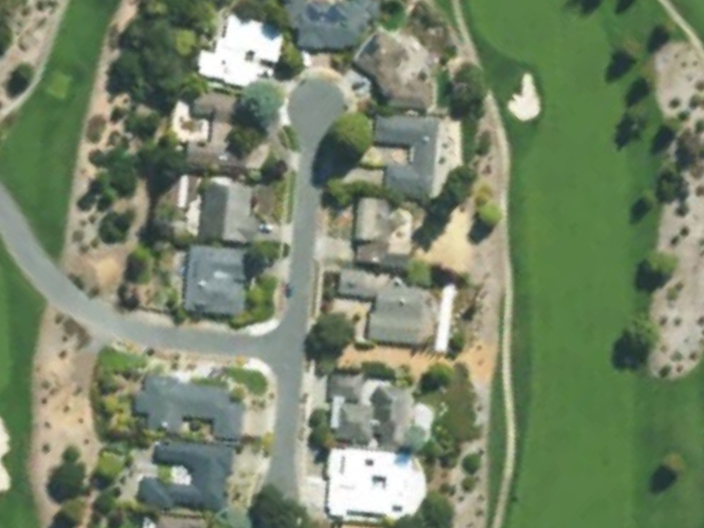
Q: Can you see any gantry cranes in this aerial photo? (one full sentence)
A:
No, no gantry crane is visible in the view.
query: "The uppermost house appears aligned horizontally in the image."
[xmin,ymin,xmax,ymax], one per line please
[277,0,386,49]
